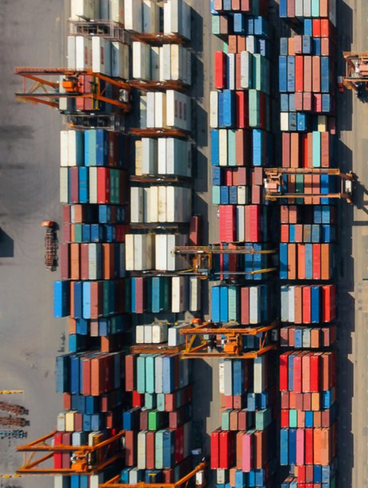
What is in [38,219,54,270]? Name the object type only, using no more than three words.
work vehicle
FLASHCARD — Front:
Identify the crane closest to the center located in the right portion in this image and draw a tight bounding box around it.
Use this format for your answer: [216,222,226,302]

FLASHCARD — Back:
[170,243,278,281]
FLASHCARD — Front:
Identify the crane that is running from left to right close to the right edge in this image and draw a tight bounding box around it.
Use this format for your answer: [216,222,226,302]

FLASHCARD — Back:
[256,165,360,207]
